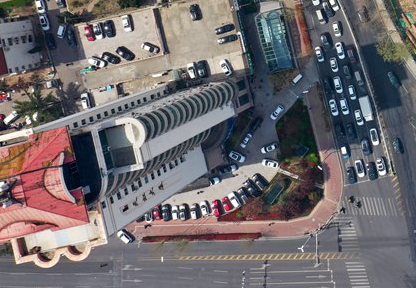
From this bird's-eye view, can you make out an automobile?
Yes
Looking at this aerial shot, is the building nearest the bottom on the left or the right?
left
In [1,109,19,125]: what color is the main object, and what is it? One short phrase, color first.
white vehicle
